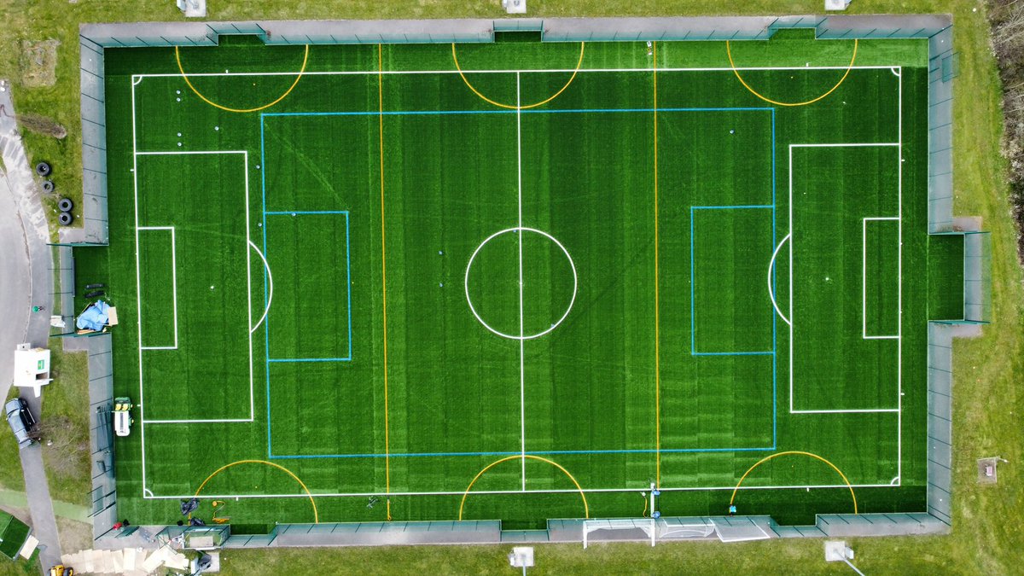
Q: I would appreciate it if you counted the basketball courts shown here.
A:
0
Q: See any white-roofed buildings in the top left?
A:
No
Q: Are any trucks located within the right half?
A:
No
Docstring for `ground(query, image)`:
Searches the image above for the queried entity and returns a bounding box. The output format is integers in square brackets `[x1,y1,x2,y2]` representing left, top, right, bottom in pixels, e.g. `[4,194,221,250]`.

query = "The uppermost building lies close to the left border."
[14,331,53,400]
